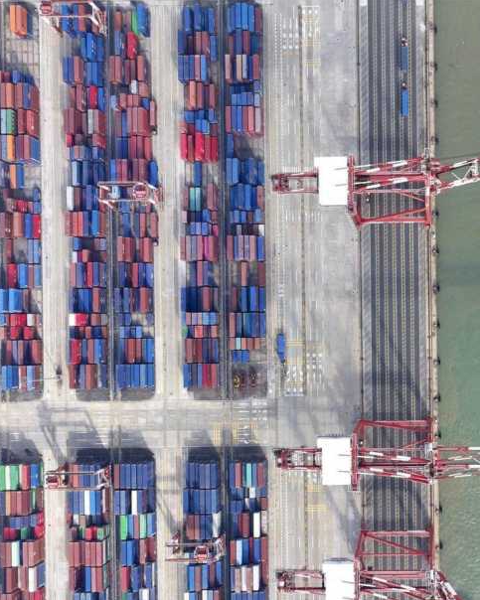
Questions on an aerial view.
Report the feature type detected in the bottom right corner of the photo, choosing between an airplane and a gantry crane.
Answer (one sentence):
The one visible in the bottom right corner of the photo is a gantry crane.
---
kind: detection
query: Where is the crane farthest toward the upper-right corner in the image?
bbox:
[272,151,480,244]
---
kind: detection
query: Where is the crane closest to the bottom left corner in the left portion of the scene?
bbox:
[39,455,117,491]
